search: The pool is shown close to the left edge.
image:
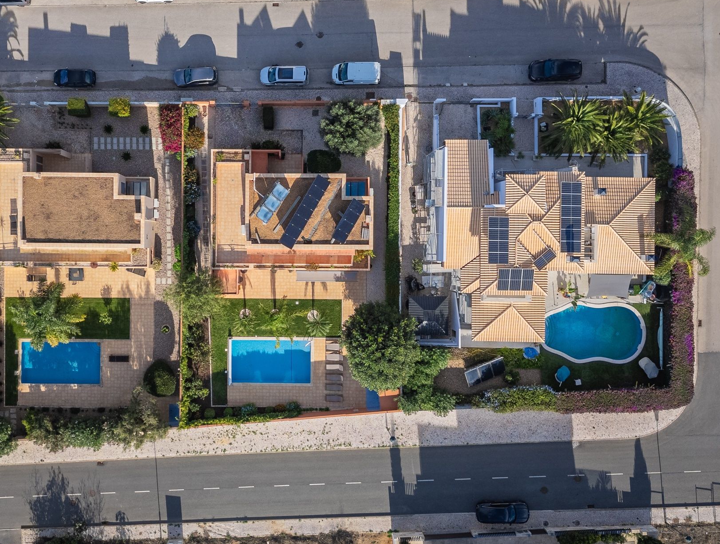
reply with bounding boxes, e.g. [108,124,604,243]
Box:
[18,339,104,388]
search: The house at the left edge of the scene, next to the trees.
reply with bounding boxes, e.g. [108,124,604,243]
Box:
[0,148,156,268]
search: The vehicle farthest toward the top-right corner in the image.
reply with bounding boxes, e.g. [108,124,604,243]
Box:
[530,59,580,82]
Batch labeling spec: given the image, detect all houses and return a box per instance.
[437,140,657,348]
[210,149,374,294]
[0,148,156,268]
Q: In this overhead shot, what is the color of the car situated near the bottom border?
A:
black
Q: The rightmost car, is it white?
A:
No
